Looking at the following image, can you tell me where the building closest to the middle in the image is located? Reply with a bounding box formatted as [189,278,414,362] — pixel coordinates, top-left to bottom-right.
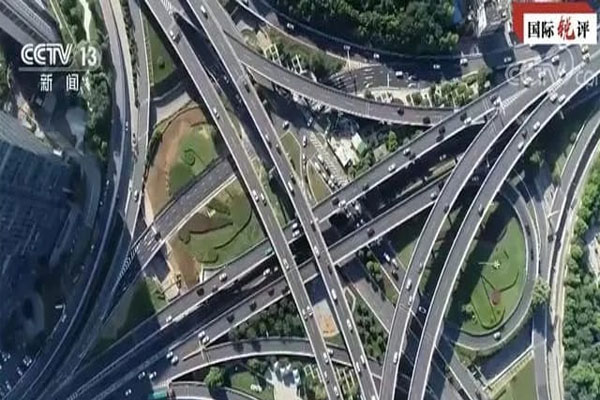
[328,131,355,167]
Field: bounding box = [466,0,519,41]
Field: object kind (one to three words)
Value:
building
